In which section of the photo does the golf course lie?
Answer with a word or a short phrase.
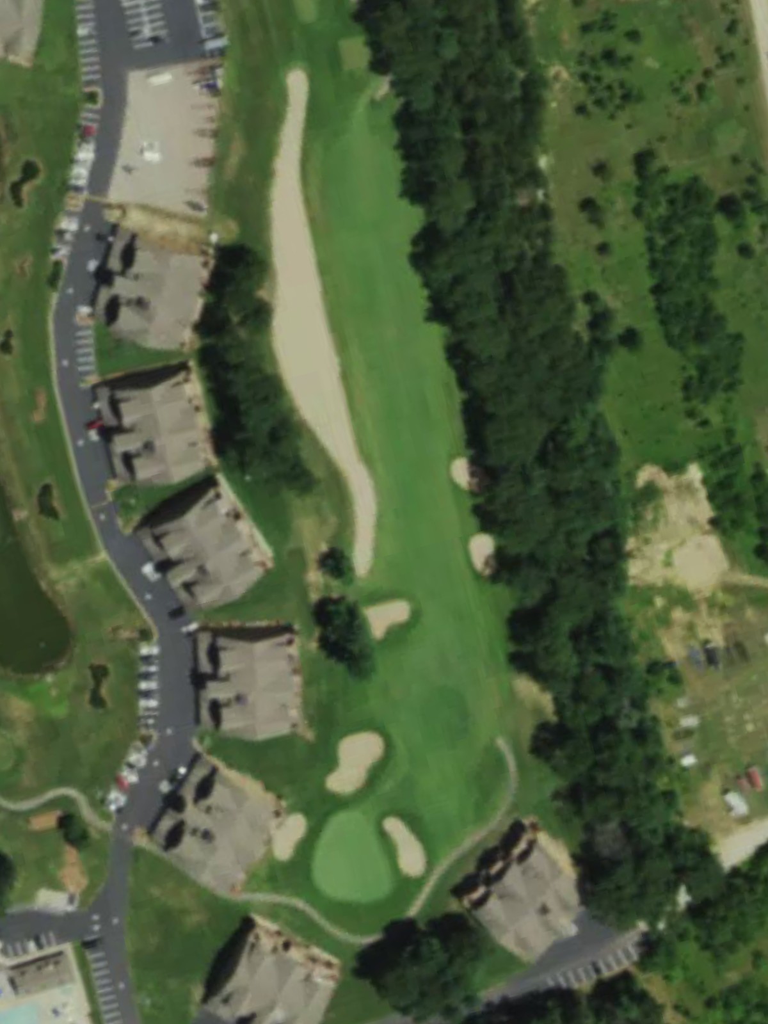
center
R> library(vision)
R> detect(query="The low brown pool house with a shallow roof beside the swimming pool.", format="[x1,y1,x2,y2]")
[9,952,77,1003]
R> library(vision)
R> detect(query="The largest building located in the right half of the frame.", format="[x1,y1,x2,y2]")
[459,835,593,968]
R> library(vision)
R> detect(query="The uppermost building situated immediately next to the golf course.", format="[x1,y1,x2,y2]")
[94,233,217,338]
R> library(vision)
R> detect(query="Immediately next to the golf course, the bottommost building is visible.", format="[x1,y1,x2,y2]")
[204,924,340,1024]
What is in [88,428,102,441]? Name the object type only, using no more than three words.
vehicle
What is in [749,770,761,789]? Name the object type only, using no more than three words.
vehicle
